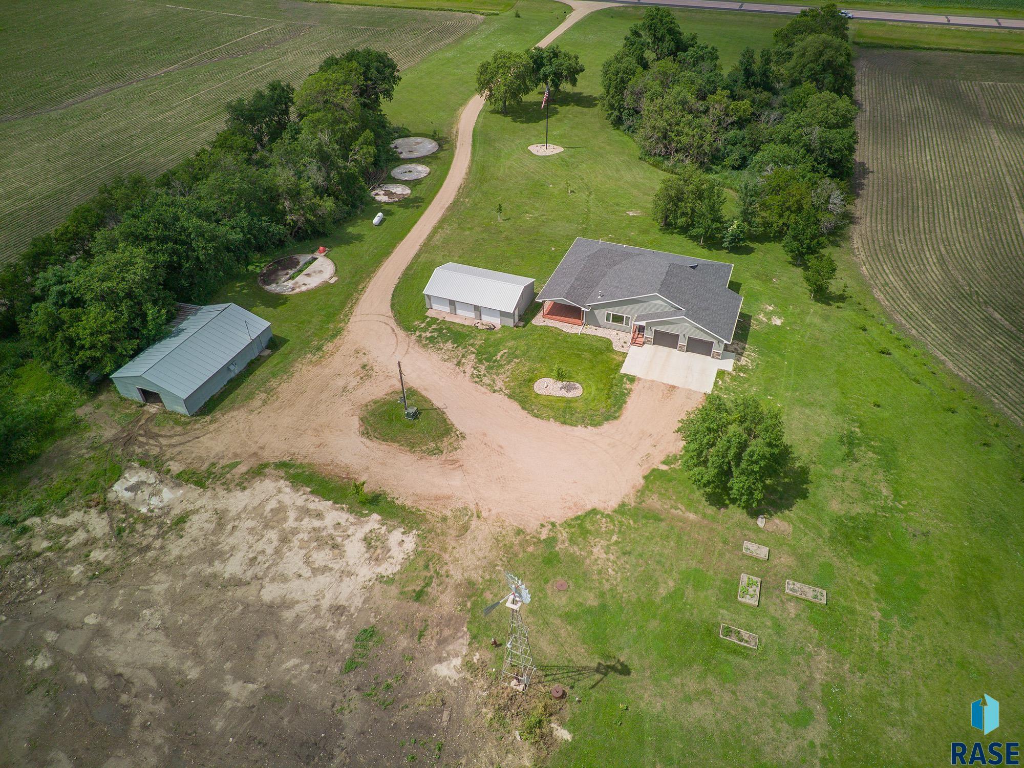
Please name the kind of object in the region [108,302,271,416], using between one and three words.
barn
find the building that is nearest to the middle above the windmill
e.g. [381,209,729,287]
[422,262,537,326]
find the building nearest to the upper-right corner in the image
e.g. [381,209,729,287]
[535,237,744,360]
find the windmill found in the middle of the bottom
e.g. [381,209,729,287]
[481,572,537,698]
